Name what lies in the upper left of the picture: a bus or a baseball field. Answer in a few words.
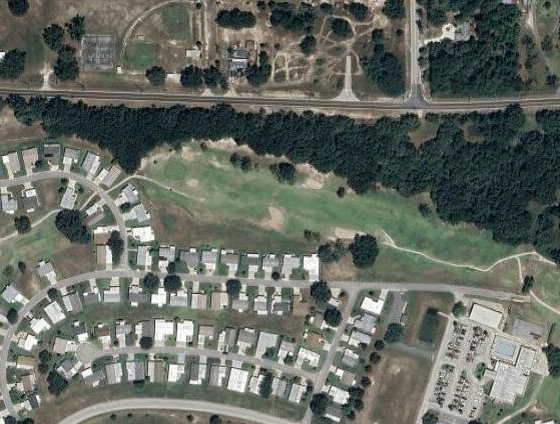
baseball field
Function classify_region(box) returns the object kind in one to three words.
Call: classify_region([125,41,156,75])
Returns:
baseball field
